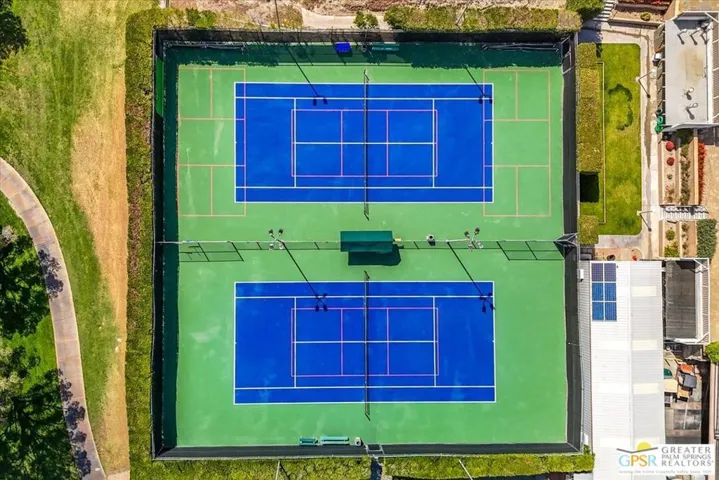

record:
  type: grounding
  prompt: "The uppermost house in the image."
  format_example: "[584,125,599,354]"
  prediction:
[654,13,719,134]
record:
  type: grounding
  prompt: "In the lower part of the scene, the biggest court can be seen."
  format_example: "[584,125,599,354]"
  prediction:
[234,281,496,404]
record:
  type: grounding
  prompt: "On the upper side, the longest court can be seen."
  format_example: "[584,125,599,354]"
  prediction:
[235,83,494,202]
